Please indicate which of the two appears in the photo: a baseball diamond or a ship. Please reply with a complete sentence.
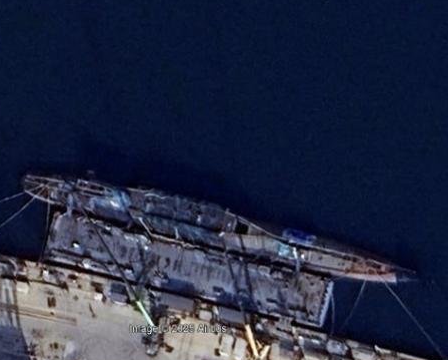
Visible in the photo is a ship.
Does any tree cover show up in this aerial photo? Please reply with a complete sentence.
No, there is no tree cover in the image.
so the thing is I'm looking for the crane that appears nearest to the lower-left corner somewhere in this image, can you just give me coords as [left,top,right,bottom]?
[79,206,163,355]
